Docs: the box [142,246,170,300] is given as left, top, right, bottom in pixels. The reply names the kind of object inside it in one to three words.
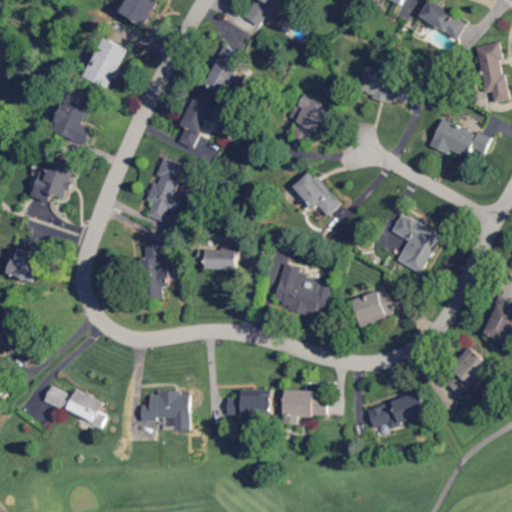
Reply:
house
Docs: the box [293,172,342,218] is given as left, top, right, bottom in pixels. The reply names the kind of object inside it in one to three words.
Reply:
house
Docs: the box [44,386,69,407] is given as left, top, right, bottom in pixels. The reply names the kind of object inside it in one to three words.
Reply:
building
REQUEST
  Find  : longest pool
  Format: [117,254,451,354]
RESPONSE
[413,27,458,50]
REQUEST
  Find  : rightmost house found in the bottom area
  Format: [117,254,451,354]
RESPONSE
[484,295,512,338]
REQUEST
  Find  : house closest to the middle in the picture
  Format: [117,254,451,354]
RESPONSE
[202,249,236,270]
